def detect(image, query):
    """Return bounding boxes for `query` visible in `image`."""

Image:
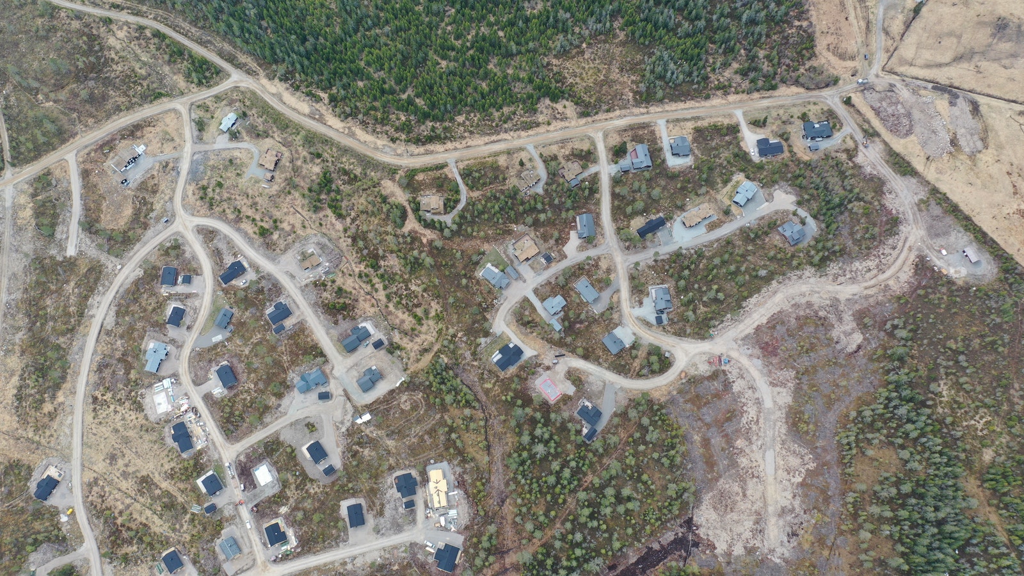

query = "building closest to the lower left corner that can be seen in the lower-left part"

[35,465,65,502]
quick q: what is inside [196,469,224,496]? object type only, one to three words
building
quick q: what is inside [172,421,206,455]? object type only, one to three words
building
